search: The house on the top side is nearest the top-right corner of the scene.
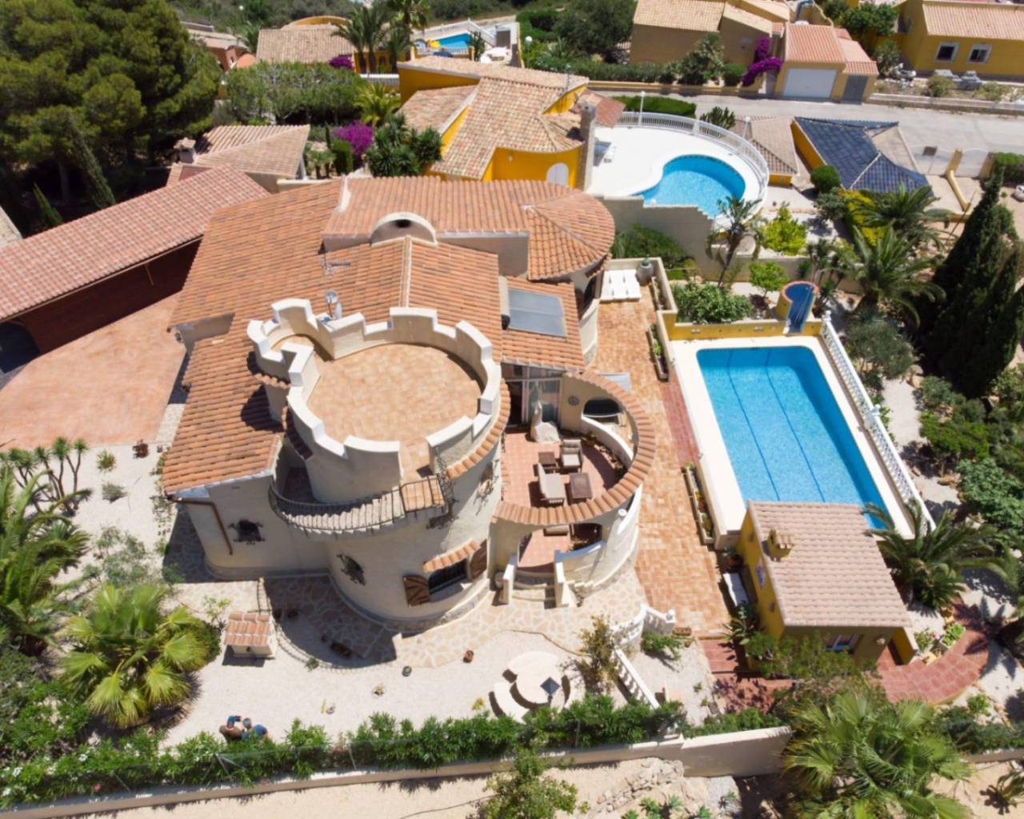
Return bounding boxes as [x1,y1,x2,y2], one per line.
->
[859,0,1024,85]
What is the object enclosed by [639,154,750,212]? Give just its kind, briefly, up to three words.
swimming pool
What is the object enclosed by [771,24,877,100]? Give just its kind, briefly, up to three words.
building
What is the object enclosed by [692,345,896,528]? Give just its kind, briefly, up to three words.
swimming pool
